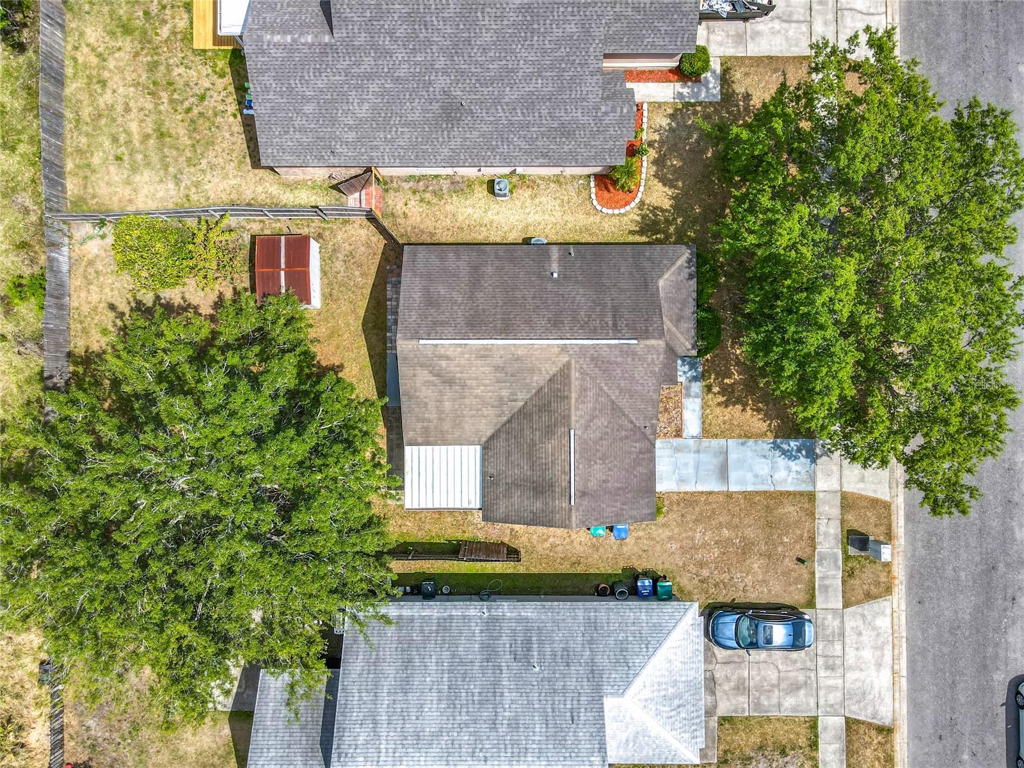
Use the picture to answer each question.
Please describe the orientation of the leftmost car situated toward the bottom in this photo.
from left to right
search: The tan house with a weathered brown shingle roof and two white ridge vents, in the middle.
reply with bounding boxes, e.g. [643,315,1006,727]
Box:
[397,243,698,529]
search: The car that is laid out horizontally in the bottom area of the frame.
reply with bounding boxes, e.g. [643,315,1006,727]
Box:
[705,607,818,660]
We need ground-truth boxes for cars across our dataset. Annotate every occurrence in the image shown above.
[1015,682,1024,768]
[705,607,818,660]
